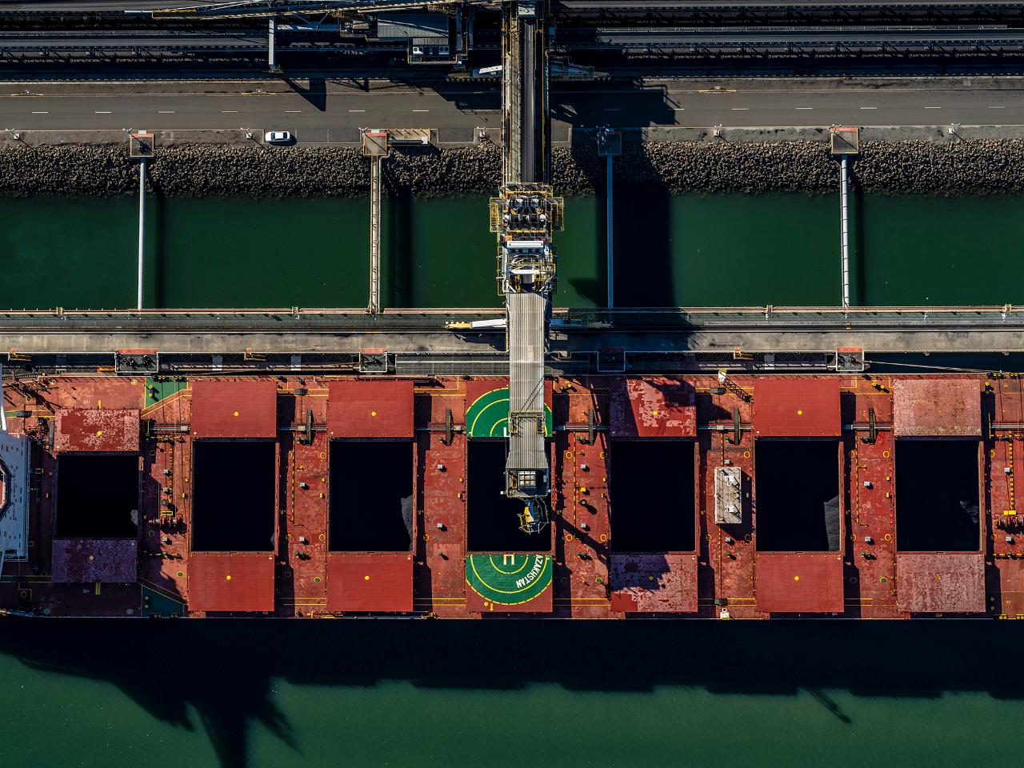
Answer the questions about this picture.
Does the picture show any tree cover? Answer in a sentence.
No, the scene doesn't show any tree cover.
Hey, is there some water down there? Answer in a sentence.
Yes, water shows up in the scene.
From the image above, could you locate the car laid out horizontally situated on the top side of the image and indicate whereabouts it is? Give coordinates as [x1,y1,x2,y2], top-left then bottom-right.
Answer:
[265,131,290,143]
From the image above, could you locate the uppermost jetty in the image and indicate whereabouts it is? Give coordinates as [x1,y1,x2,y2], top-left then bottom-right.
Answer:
[0,303,1024,354]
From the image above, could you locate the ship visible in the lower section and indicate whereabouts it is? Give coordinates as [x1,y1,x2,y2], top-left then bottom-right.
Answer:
[0,362,1024,620]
